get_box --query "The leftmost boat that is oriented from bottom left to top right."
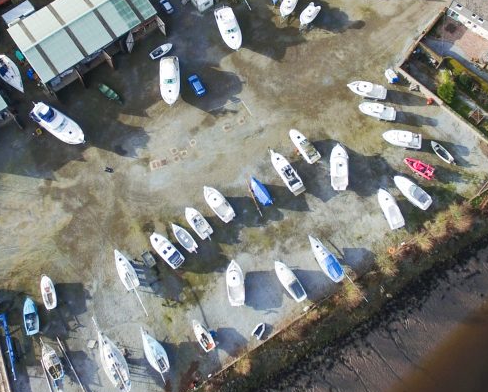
[149,44,173,61]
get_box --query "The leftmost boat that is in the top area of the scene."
[0,53,27,91]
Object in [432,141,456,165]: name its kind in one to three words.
boat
